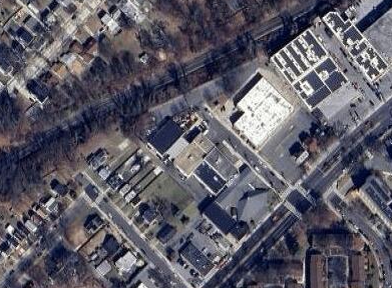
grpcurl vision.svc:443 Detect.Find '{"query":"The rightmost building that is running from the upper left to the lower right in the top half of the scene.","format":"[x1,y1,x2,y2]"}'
[323,11,388,84]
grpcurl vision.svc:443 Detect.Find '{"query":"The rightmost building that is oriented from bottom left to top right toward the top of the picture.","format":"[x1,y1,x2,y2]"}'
[314,84,364,119]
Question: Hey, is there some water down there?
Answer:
No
